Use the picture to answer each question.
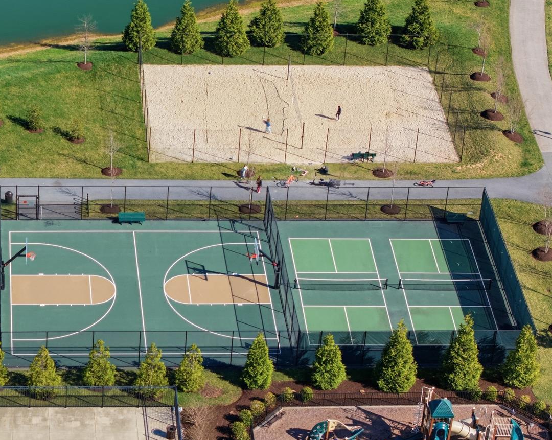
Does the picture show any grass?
Yes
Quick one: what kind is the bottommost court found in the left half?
basketball court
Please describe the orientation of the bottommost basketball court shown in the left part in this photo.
from left to right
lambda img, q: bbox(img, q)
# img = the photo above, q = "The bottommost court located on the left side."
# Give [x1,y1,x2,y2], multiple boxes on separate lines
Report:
[9,231,281,354]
